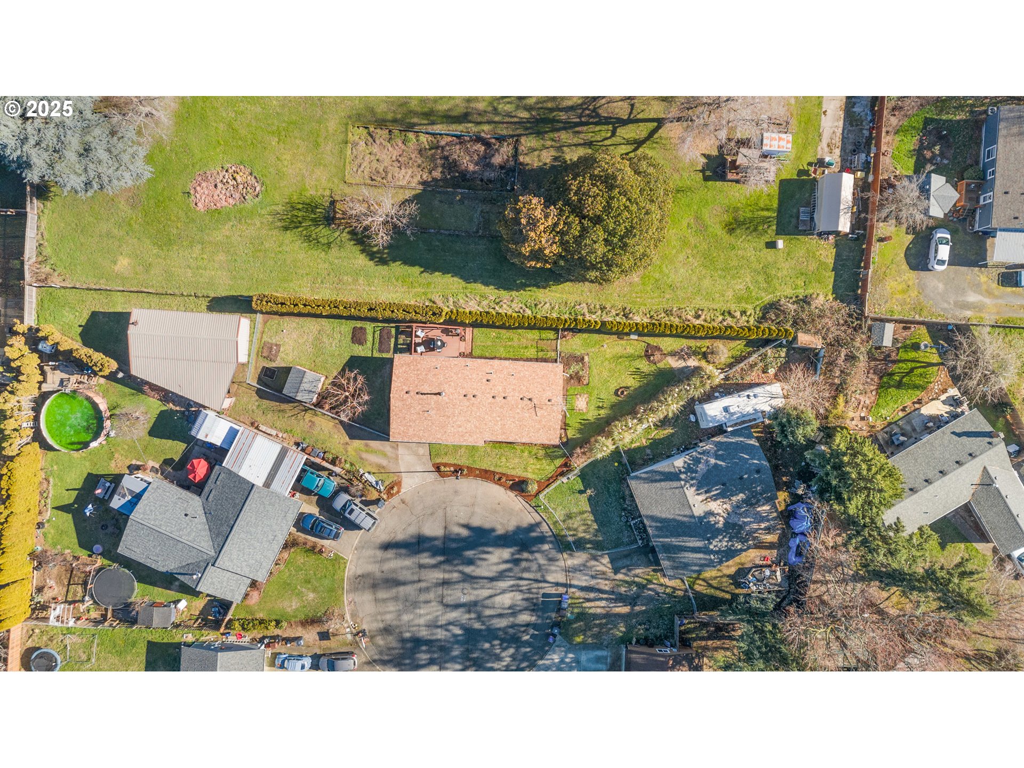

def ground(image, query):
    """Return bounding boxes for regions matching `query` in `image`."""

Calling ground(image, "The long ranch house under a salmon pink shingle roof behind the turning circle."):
[390,354,569,446]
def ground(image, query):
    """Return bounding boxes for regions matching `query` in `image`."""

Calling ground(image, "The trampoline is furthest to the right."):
[92,563,141,609]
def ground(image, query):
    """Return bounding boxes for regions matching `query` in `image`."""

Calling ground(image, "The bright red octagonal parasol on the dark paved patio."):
[187,458,211,482]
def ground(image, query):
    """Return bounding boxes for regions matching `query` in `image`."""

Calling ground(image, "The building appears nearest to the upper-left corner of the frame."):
[127,308,253,411]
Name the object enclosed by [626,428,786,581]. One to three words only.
house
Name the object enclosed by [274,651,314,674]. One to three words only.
car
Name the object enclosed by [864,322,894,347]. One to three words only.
shed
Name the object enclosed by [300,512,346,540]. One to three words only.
car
